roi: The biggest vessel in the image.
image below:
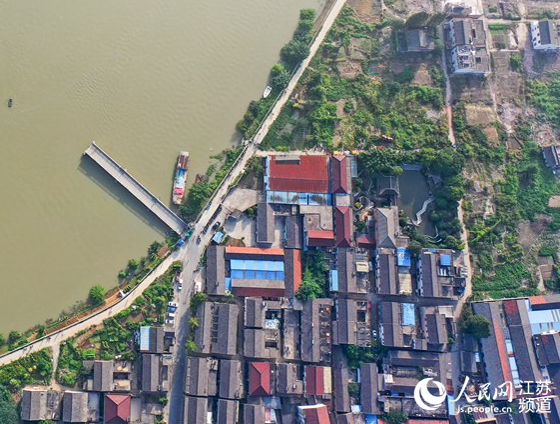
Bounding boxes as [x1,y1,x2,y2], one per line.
[173,150,196,204]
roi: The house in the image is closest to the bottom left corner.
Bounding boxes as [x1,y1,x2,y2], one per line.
[21,389,42,421]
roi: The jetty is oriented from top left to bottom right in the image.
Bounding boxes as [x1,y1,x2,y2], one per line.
[84,141,188,237]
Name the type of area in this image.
residential area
